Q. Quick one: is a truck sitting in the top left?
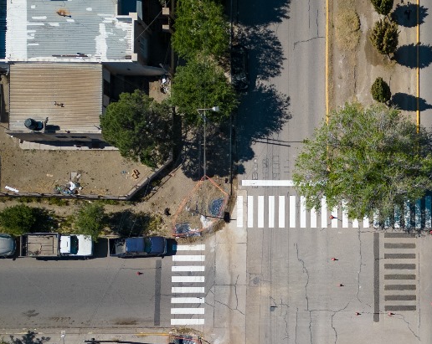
No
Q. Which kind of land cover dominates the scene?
paved ground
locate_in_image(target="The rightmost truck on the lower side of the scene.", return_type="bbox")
[108,234,169,257]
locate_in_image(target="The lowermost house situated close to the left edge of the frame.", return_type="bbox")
[7,63,120,152]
